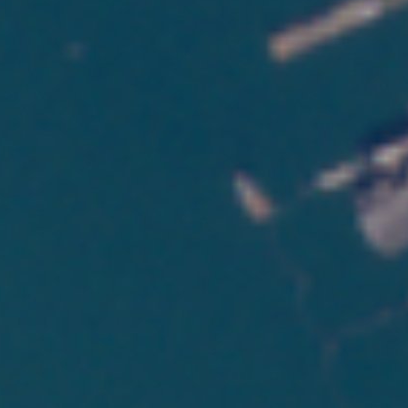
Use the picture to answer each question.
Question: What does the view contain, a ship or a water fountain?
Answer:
ship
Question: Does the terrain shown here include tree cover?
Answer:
No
